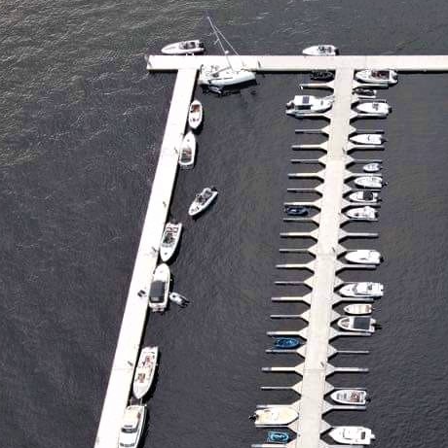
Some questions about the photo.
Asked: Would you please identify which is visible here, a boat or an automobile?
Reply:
boat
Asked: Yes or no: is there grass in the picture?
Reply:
No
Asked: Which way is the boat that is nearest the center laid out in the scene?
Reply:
at an angle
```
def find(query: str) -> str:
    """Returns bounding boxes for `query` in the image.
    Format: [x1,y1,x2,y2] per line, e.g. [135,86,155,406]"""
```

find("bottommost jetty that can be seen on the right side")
[297,69,355,448]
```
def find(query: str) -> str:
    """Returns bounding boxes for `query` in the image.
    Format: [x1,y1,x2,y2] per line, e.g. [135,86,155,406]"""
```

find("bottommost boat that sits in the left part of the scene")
[119,401,153,448]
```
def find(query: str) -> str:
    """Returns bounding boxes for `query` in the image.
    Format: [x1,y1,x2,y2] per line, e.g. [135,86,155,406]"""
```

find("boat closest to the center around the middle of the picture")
[188,188,217,214]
